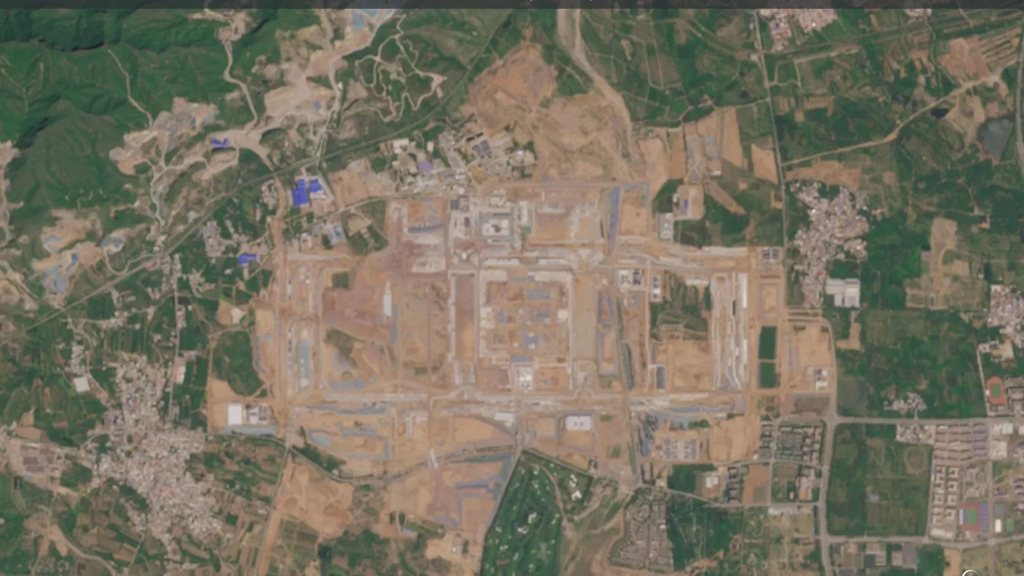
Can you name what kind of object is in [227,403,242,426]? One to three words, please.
building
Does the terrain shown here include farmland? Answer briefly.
Yes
